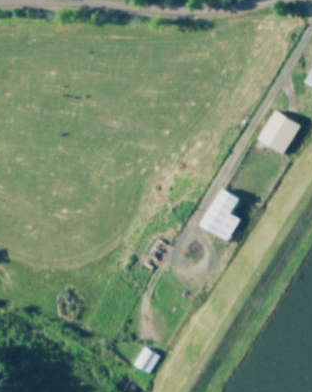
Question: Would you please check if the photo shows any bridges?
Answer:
No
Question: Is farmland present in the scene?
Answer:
Yes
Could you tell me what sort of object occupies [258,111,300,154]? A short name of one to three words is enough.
barn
